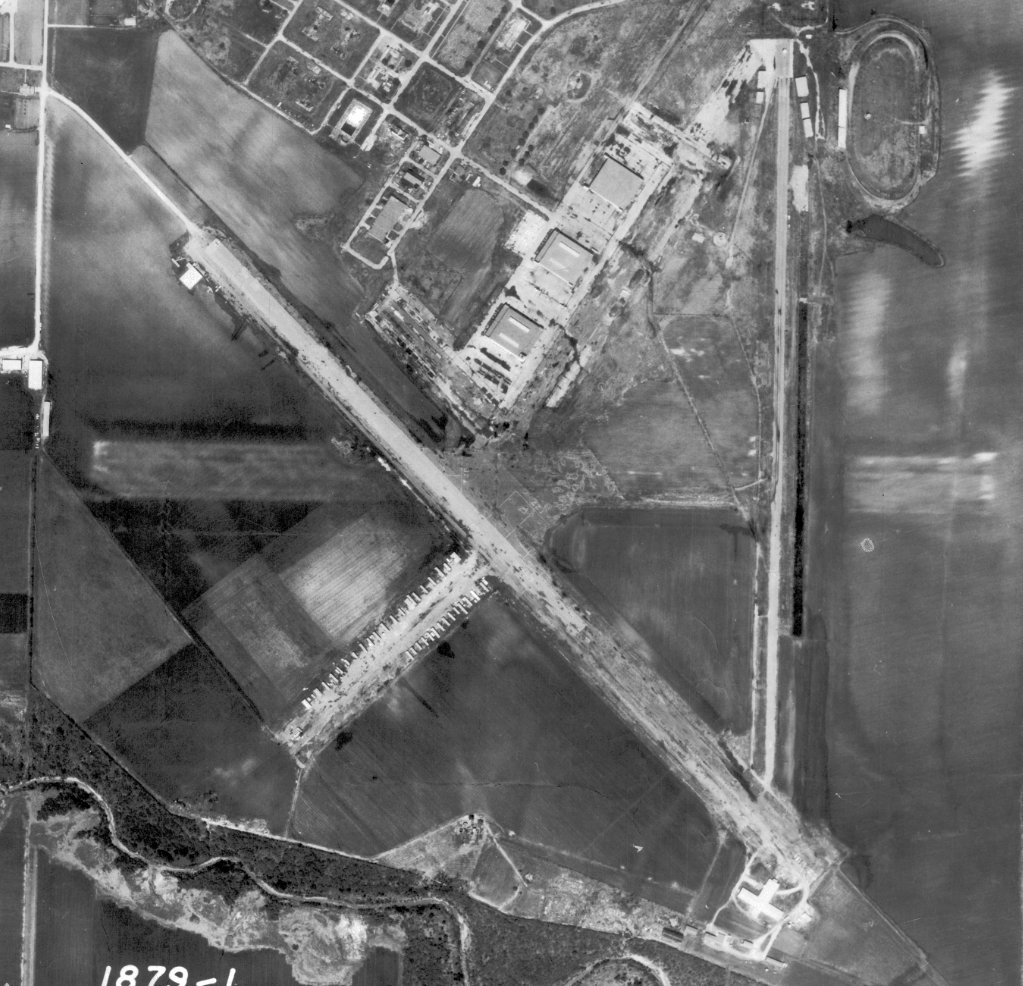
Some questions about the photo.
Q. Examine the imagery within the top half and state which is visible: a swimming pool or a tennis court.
swimming pool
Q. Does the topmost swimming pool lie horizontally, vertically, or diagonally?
diagonally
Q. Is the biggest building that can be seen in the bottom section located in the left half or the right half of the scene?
right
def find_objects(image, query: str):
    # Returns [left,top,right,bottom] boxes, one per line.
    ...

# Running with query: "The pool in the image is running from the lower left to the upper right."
[330,99,371,145]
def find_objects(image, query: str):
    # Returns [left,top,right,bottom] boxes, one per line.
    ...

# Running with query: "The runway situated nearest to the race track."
[766,78,790,783]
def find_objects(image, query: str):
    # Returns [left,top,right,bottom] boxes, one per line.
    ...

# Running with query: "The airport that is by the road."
[185,40,845,888]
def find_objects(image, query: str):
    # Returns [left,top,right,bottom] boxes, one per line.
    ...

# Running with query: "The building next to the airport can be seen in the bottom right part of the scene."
[738,878,785,922]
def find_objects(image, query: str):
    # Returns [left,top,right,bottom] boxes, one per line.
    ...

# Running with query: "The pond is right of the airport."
[851,216,944,268]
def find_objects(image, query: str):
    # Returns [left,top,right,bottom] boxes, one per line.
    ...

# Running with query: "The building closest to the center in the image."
[486,304,543,360]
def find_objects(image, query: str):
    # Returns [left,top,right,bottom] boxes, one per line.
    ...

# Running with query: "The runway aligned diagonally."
[207,240,584,634]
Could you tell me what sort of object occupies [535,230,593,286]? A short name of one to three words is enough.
hangar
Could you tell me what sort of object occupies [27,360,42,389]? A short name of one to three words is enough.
building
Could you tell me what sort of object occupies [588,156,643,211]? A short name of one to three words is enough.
hangar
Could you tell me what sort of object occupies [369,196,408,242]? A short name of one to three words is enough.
building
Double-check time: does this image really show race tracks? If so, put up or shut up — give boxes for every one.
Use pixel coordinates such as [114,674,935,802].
[843,28,930,211]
